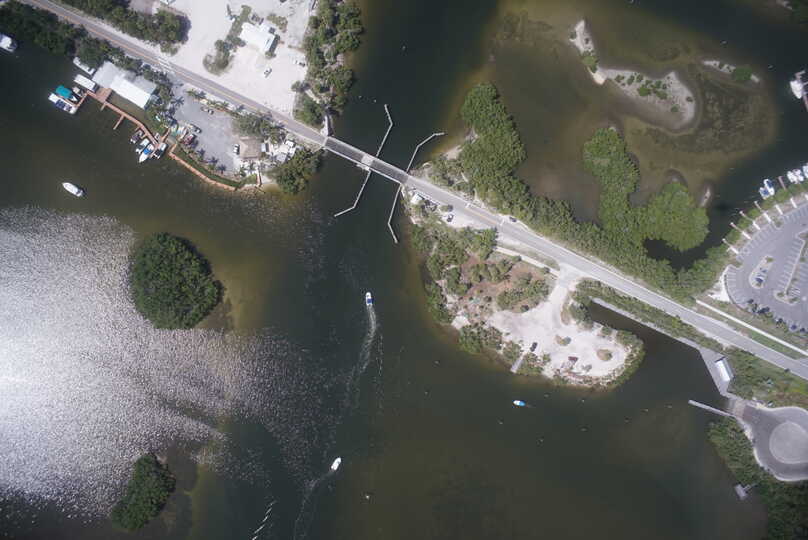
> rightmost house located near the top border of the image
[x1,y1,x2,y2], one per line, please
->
[240,23,275,51]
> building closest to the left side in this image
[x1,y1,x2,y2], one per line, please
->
[94,60,157,109]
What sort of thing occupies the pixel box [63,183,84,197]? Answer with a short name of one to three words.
boat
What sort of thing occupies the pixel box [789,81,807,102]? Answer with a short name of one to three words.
boat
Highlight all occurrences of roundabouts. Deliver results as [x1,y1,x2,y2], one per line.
[743,400,808,482]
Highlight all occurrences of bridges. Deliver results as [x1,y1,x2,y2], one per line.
[324,134,407,186]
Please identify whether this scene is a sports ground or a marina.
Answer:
marina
